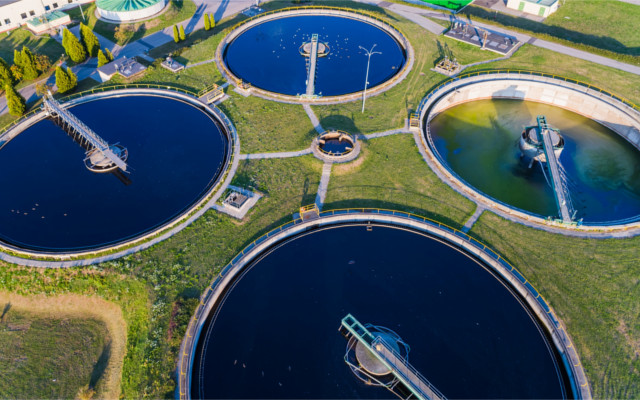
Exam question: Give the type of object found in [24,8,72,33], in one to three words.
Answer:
building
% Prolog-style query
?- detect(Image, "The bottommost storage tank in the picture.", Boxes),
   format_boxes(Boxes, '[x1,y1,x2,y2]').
[181,206,588,400]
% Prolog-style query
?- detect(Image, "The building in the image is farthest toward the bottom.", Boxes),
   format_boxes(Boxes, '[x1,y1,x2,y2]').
[97,55,141,82]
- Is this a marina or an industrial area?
industrial area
